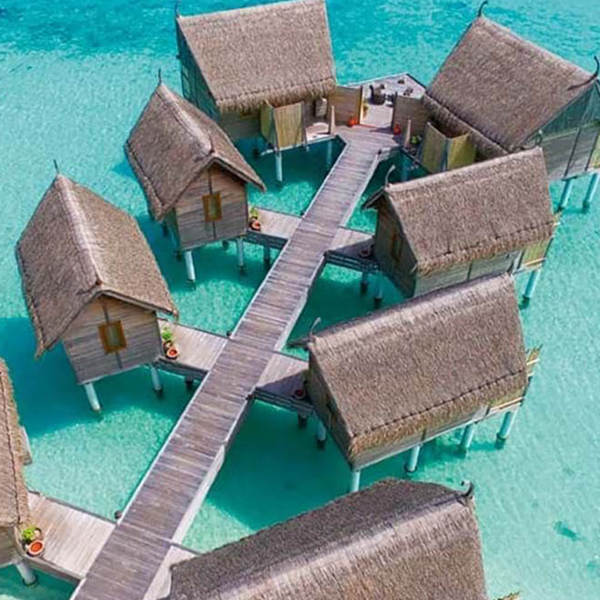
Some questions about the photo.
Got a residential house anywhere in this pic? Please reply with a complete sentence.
Yes, the photo shows a residential house.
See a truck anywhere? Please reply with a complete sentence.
No, no truck is visible in the scene.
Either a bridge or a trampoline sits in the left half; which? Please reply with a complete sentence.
The one visible in the left half is a bridge.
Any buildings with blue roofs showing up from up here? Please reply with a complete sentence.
No, no building with a blue roof is visible in the scene.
